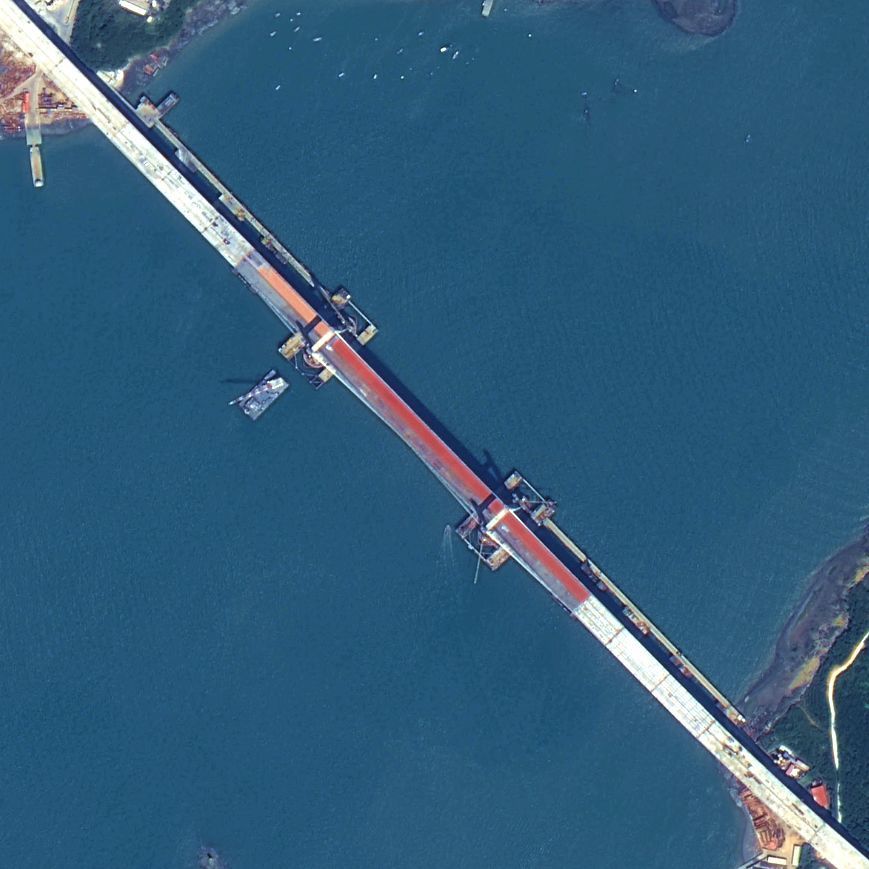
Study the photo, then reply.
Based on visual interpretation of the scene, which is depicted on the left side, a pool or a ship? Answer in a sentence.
The feature located on the left side is a ship.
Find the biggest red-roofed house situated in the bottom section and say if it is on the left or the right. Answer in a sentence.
The biggest red-roofed house situated in the bottom section is on the right side of the image.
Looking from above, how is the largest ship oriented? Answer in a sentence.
In this picture, the largest ship is oriented at an angle.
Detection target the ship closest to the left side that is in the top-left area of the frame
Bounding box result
[31,148,43,187]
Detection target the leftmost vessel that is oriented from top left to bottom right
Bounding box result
[174,149,197,173]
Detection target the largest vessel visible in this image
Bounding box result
[228,367,289,419]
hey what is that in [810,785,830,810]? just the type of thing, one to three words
house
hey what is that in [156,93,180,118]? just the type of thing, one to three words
ship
